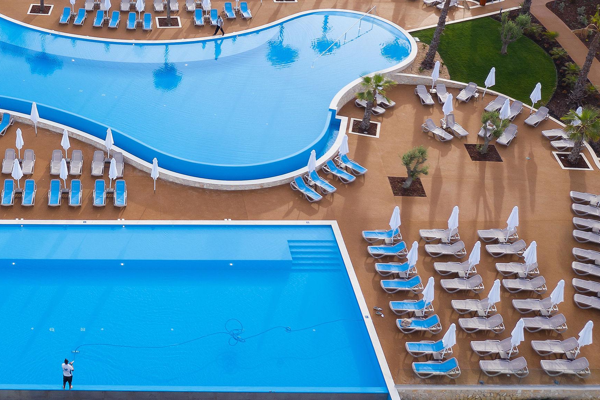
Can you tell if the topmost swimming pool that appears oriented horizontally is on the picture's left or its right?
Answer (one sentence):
The topmost swimming pool that appears oriented horizontally sits on the left side.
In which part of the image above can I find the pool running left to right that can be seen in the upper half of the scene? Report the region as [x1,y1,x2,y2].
[0,23,407,169]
